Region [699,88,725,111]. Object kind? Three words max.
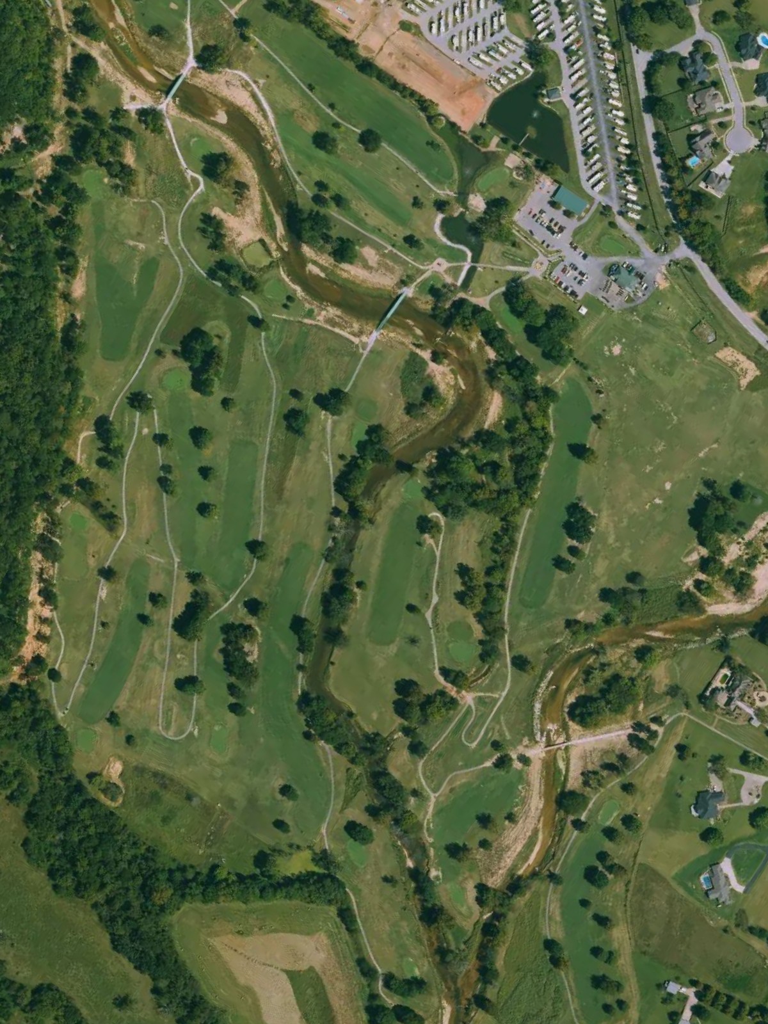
house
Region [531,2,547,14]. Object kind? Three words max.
vehicle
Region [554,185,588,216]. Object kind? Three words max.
building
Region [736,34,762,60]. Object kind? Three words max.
house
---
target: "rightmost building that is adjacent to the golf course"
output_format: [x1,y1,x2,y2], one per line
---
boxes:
[617,255,641,291]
